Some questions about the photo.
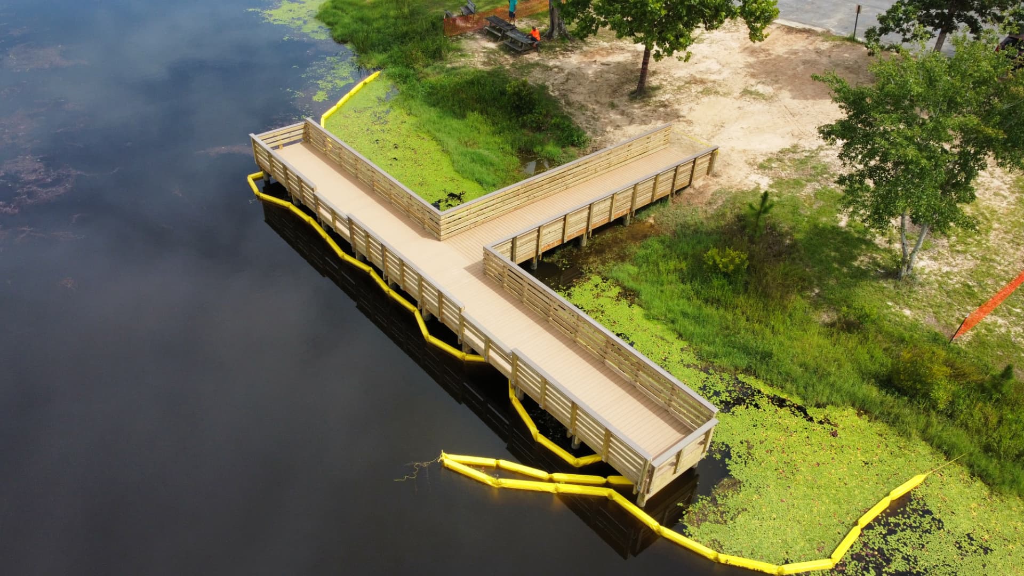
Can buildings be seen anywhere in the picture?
No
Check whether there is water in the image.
Yes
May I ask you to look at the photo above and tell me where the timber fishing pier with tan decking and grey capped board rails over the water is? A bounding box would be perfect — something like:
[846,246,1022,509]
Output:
[249,118,720,505]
